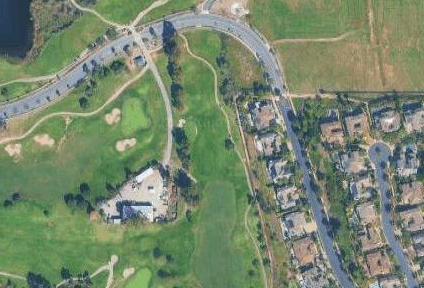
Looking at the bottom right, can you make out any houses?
Yes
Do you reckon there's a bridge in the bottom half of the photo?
No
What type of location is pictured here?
golf course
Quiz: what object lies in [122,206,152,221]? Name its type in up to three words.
building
